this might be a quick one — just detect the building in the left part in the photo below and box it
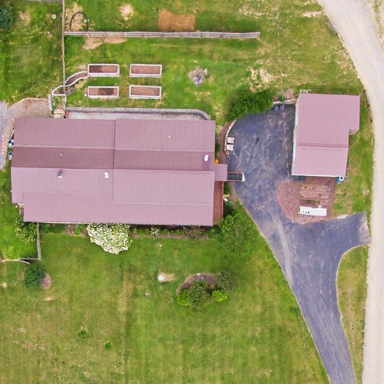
[12,118,228,226]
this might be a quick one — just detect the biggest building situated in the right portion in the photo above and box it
[289,94,360,179]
